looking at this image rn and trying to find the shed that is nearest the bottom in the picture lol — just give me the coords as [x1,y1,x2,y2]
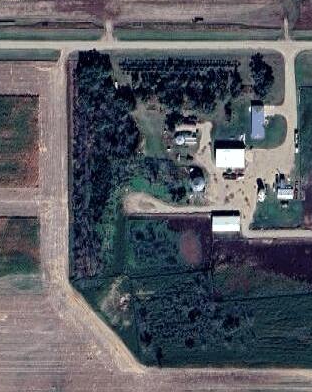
[212,216,241,232]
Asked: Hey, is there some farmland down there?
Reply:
Yes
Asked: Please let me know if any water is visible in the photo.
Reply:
No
